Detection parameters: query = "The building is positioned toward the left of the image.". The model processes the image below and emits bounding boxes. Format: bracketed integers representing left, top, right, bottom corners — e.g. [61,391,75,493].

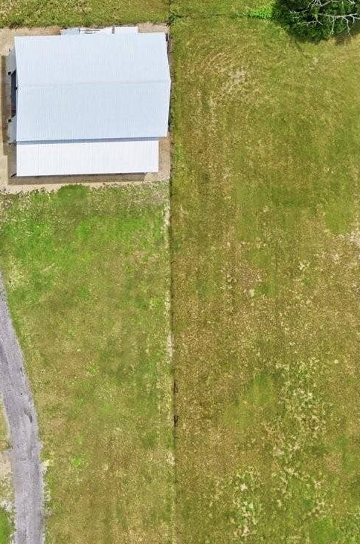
[8,31,171,176]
